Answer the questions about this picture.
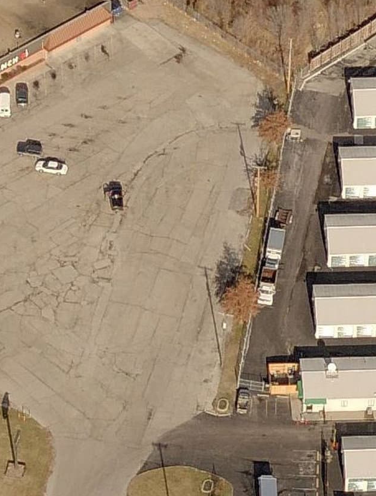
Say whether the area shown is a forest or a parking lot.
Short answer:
parking lot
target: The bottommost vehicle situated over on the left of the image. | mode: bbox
[105,182,126,208]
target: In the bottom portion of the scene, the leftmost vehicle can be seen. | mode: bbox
[235,386,250,411]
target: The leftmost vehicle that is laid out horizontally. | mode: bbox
[15,142,46,157]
